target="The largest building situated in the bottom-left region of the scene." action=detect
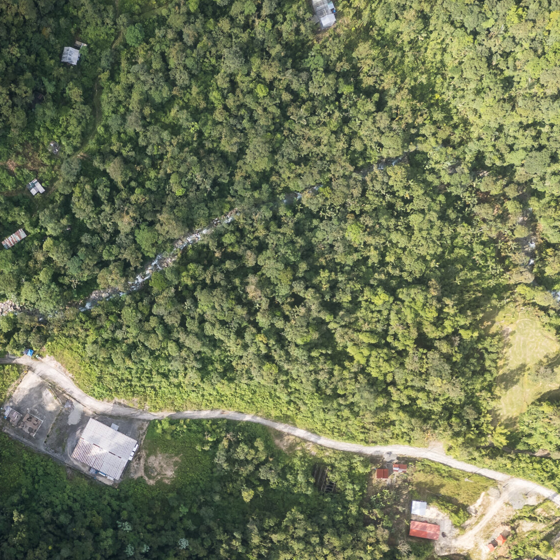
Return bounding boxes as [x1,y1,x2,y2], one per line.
[71,418,137,480]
